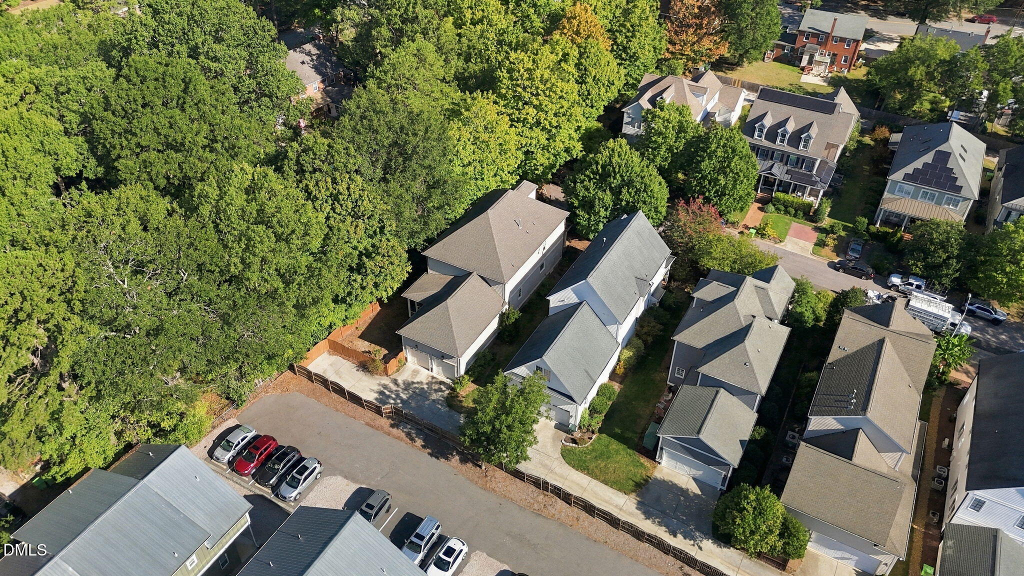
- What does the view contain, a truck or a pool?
truck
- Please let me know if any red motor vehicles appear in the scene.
Yes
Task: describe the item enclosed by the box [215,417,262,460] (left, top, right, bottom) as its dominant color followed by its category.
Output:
gray car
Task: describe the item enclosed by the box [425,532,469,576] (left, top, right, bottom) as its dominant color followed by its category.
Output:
white car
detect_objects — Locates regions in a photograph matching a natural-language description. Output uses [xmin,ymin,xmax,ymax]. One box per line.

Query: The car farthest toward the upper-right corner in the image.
[972,12,1001,24]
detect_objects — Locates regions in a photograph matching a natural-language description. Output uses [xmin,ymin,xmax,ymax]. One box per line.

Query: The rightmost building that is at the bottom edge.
[932,355,1024,576]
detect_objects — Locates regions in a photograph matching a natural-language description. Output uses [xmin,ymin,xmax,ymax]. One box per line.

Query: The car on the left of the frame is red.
[237,427,283,473]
